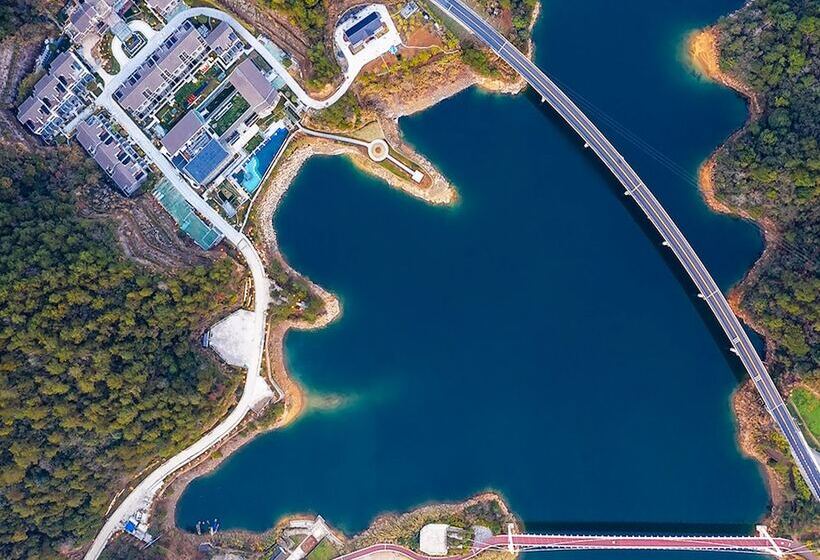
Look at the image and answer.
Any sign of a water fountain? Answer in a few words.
Yes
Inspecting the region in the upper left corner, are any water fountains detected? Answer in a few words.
Yes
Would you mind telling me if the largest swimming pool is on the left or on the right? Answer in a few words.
left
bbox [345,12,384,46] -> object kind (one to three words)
house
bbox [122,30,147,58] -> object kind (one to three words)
fountain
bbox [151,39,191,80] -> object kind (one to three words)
house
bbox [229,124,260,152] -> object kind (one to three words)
building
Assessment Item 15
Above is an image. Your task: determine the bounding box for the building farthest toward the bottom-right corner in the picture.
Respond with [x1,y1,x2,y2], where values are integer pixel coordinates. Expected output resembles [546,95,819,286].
[420,522,450,554]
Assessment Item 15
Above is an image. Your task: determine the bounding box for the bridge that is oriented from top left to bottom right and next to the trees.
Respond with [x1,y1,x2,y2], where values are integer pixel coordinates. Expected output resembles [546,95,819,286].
[445,0,786,411]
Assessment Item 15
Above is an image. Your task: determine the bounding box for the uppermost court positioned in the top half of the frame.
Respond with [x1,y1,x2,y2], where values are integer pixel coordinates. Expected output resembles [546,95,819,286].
[151,180,192,224]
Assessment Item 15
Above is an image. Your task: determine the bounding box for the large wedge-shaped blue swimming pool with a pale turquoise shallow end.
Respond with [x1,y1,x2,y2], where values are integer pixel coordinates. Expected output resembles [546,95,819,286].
[232,127,290,194]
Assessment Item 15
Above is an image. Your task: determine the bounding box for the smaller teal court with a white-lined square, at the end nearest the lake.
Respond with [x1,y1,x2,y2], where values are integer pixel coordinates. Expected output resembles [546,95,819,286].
[179,210,219,249]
